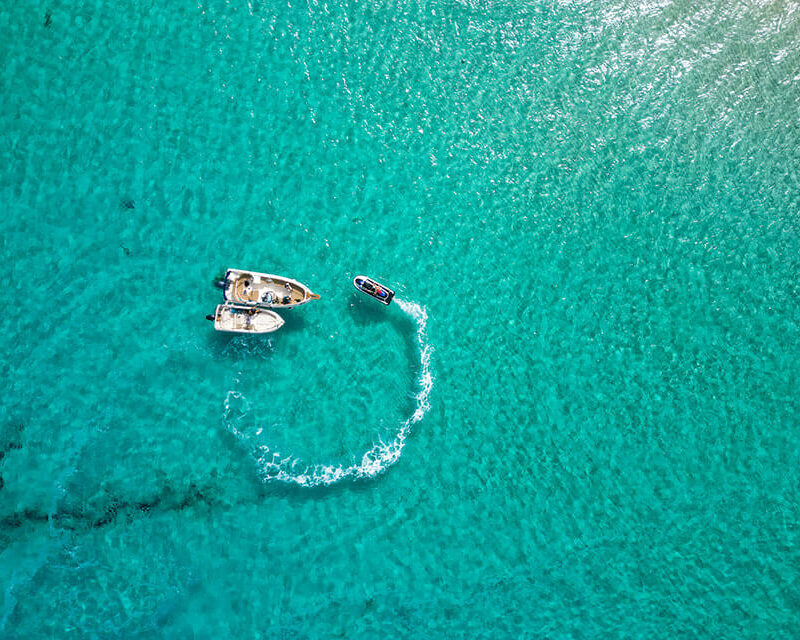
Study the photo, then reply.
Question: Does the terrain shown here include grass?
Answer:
No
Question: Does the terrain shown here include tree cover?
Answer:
No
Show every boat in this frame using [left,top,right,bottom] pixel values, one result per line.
[206,305,285,333]
[354,276,394,304]
[213,270,320,309]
